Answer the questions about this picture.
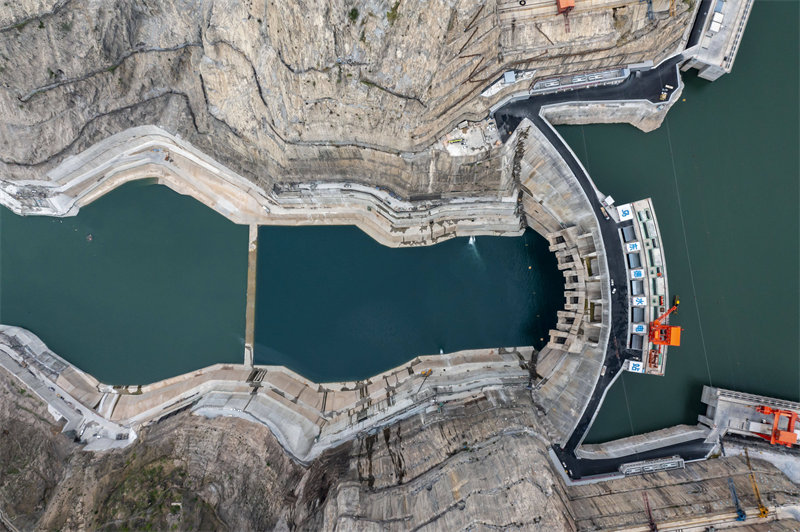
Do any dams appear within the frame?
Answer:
Yes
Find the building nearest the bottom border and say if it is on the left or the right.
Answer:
right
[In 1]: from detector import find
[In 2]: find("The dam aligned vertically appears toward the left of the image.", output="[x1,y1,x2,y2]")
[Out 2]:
[244,219,259,368]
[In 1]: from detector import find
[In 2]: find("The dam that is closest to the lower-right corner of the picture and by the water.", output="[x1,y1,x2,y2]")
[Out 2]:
[516,114,668,452]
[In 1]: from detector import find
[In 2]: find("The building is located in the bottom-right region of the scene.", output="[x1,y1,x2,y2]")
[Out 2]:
[616,442,720,475]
